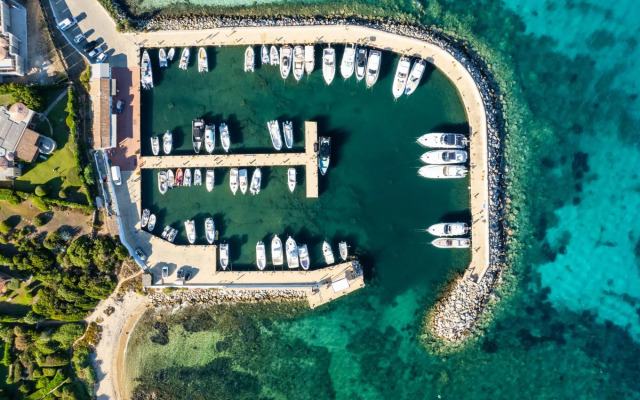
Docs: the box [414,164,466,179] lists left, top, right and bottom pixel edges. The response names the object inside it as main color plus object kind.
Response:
white boat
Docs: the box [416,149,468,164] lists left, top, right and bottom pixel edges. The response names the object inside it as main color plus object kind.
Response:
white boat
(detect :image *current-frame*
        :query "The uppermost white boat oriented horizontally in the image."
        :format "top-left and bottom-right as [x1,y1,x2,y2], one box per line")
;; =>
[409,132,471,148]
